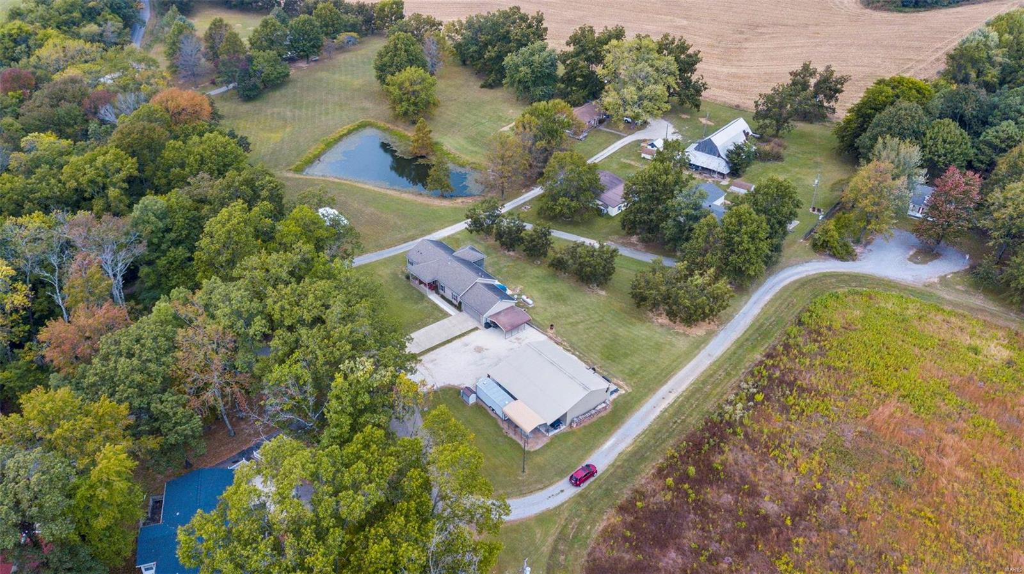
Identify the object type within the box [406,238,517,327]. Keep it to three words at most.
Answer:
house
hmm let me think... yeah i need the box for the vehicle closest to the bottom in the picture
[568,466,599,491]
